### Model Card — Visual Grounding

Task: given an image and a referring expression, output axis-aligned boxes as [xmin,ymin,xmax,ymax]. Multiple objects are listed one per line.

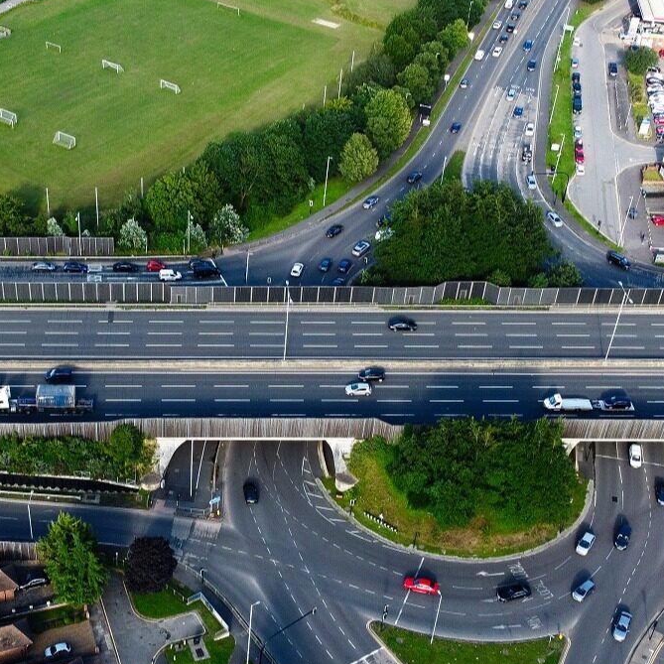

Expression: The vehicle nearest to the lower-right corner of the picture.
[613,611,631,639]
